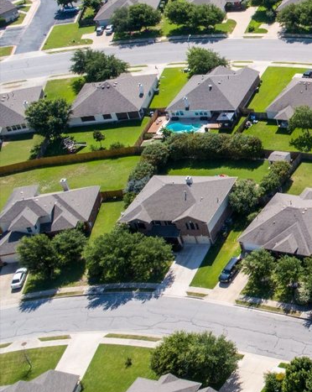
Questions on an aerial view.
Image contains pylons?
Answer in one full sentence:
No, no pylon is visible in the scene.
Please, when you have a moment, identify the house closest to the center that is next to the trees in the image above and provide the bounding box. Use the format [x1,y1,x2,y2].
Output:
[119,166,237,245]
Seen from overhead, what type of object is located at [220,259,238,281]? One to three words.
car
